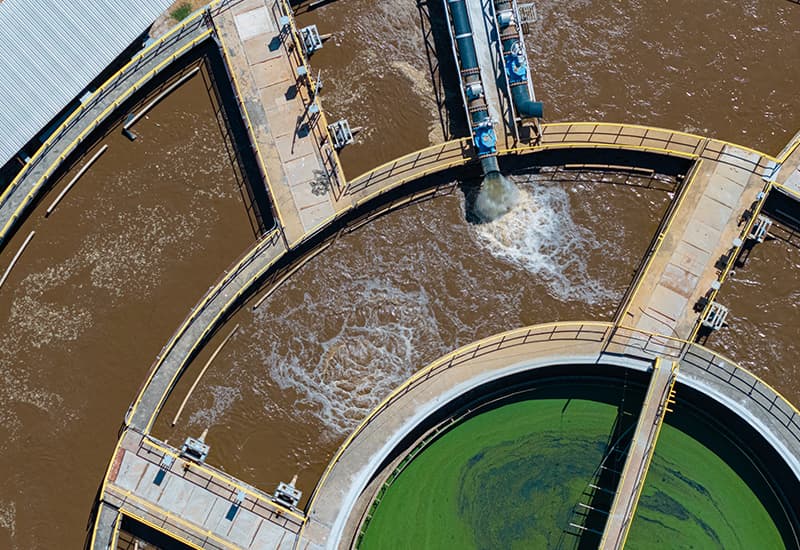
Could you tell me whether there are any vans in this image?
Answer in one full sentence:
No, there appears to be no van in this shot.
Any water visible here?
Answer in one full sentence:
Yes, there is water in the image.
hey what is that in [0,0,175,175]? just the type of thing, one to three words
shed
